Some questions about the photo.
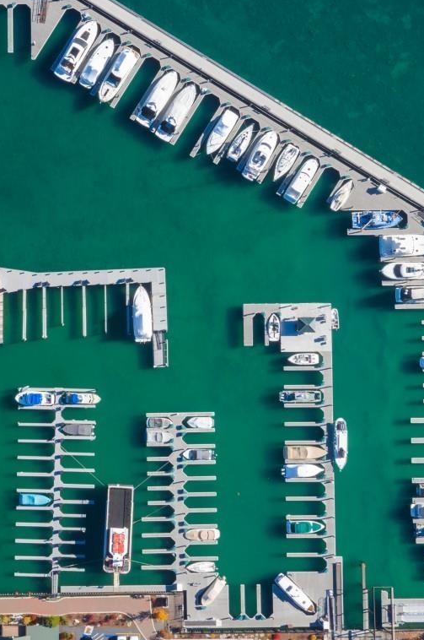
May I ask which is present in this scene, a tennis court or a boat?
boat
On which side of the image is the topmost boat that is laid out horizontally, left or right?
right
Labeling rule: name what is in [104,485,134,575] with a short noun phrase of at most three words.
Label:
boat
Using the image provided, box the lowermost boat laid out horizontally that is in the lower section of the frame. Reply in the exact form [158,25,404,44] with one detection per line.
[181,561,218,573]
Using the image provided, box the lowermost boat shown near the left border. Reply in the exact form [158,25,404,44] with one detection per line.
[19,491,52,506]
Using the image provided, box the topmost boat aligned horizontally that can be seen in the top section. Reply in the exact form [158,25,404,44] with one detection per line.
[350,209,403,229]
